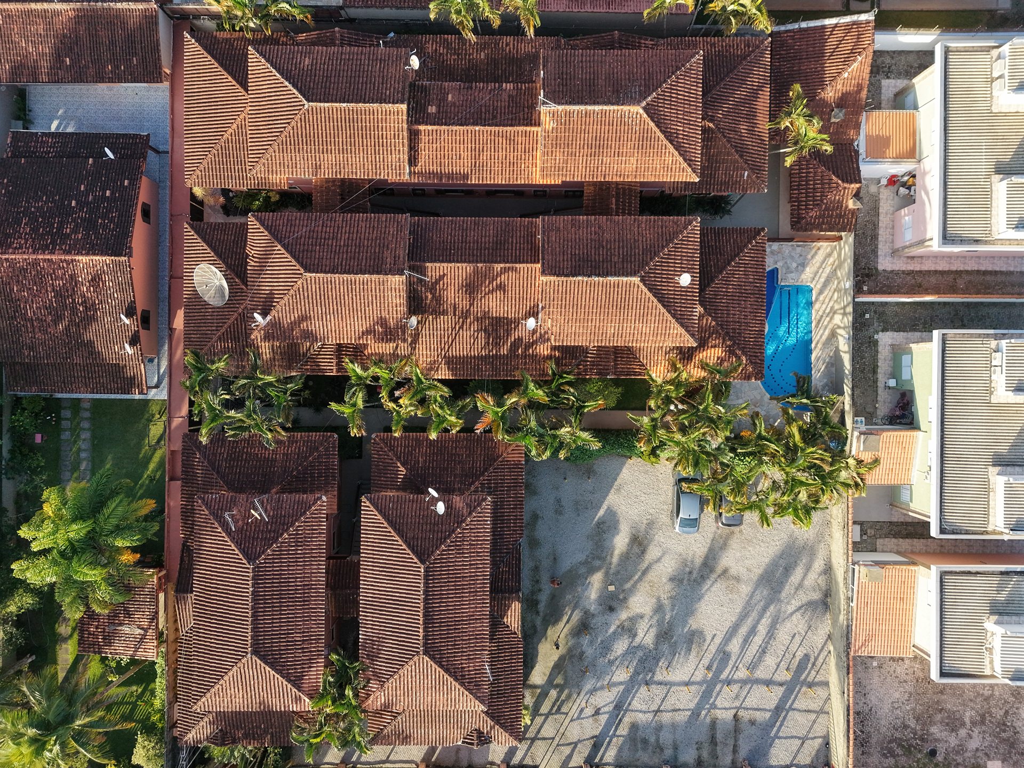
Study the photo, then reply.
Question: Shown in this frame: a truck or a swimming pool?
swimming pool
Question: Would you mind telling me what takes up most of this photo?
buildings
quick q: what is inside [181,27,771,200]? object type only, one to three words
building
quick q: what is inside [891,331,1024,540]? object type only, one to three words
house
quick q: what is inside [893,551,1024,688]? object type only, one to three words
house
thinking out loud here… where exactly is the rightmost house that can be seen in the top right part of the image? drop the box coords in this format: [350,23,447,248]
[891,39,1024,255]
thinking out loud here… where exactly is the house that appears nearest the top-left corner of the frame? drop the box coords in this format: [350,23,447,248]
[0,3,166,87]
